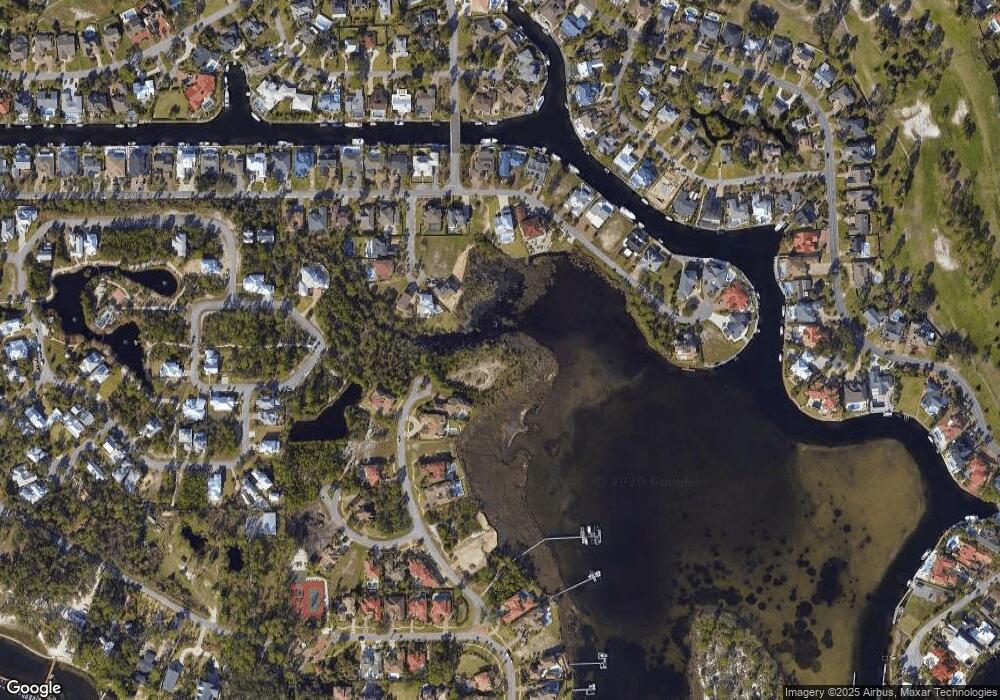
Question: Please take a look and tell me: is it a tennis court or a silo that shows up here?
tennis court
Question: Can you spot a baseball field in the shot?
No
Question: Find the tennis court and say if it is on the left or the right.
left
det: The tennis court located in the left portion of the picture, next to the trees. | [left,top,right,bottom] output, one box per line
[291,576,328,620]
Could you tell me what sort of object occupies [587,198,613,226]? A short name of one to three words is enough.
house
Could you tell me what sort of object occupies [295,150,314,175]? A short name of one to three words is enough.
house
